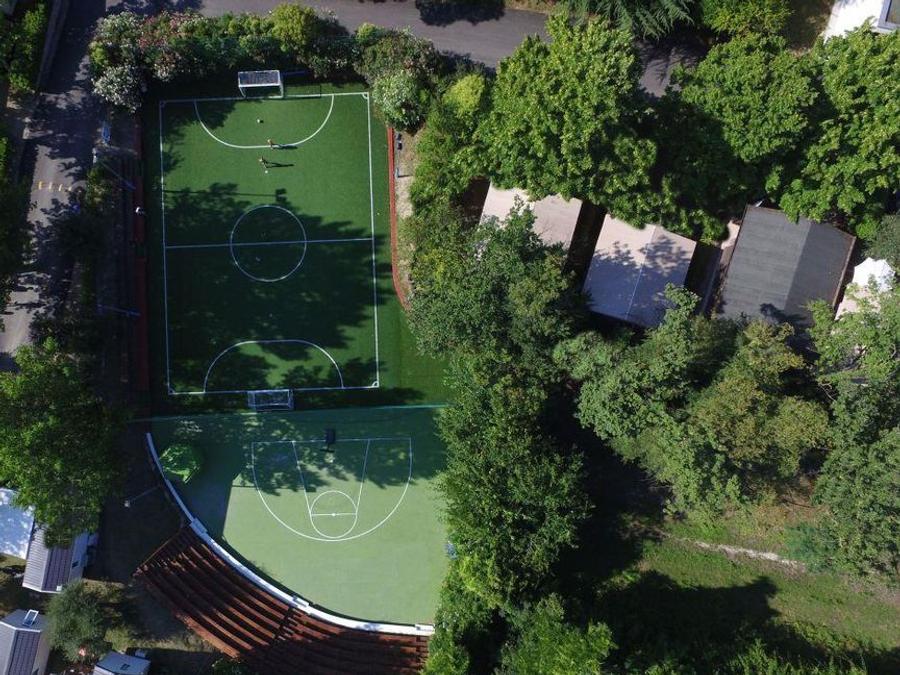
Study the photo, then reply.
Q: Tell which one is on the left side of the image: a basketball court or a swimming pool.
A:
basketball court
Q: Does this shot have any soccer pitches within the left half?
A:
Yes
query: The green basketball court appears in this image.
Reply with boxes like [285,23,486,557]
[147,407,461,628]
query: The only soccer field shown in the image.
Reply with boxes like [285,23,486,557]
[146,67,454,420]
